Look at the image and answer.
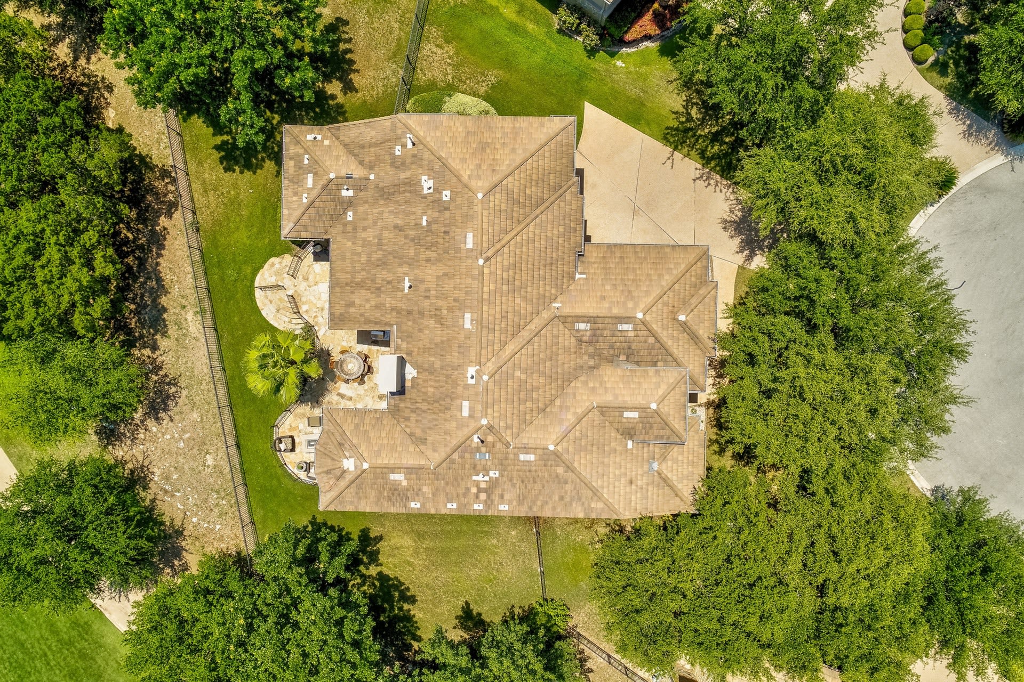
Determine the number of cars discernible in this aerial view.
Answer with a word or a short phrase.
0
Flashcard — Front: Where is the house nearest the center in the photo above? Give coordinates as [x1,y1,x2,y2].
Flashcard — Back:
[280,112,720,519]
